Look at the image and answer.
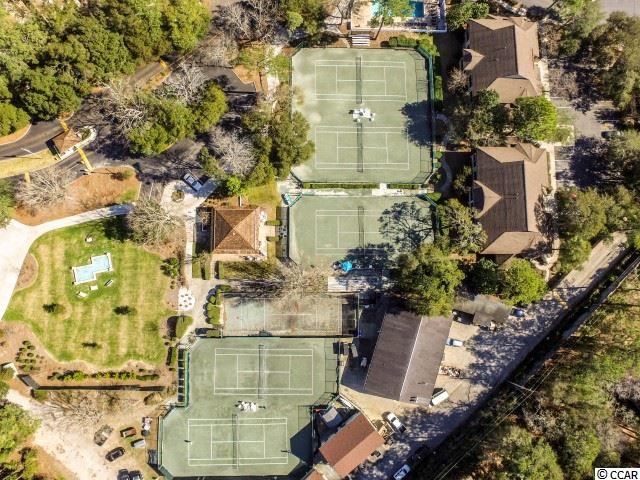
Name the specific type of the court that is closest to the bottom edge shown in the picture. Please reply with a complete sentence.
It looks like the court that is closest to the bottom edge is a tennis court.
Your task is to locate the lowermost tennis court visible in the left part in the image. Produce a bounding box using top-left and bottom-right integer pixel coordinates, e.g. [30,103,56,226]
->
[161,408,312,476]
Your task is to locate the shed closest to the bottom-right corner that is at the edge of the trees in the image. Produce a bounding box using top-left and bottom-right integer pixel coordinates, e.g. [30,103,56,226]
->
[471,298,511,328]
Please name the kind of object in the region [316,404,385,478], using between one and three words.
shed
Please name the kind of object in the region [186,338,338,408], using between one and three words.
tennis court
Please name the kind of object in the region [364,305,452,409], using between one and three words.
barn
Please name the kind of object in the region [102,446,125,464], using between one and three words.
car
